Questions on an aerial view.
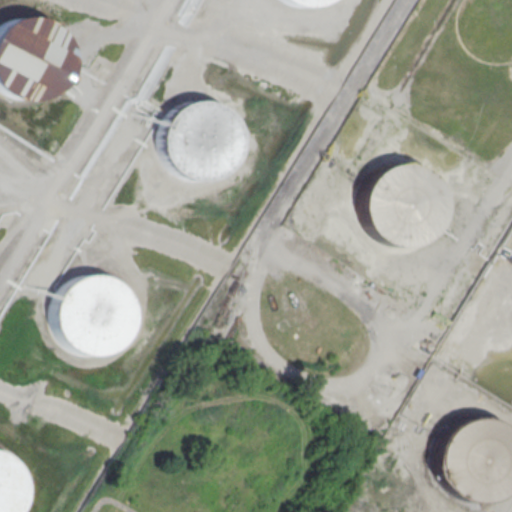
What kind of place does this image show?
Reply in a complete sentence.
This looks like an industrial area.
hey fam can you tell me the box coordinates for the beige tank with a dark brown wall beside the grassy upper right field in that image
[352,161,454,255]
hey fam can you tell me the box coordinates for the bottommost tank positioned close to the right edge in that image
[426,414,512,508]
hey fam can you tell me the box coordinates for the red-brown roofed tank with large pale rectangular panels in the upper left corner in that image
[0,16,82,108]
